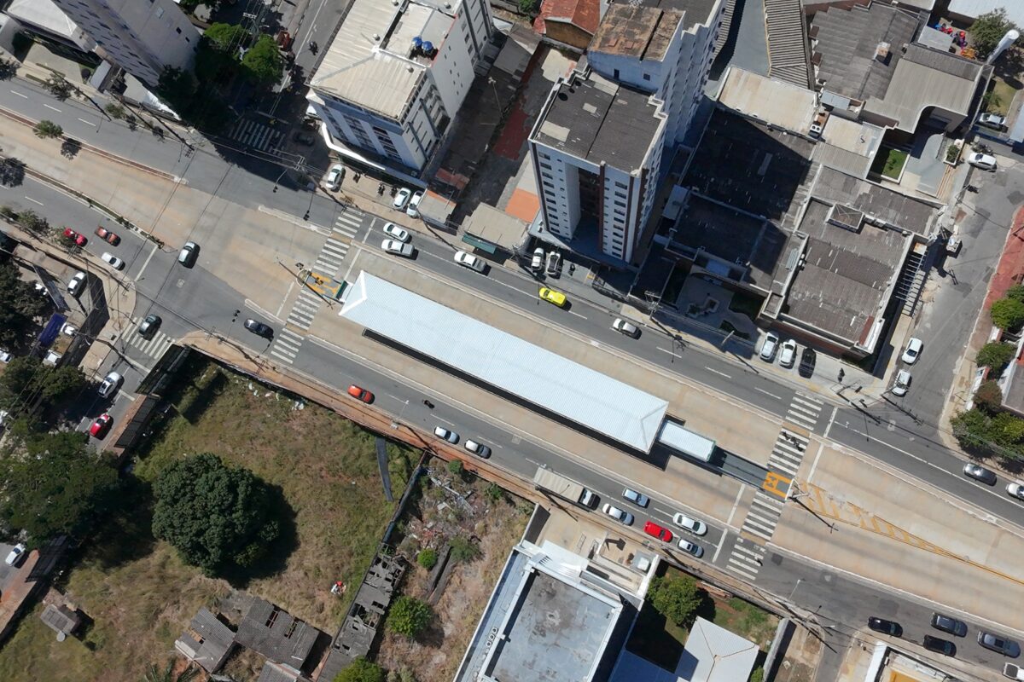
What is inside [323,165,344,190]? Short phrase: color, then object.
white car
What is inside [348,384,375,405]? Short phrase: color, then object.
red car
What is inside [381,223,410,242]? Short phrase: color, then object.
white car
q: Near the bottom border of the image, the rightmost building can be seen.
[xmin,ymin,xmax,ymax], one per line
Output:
[852,636,967,682]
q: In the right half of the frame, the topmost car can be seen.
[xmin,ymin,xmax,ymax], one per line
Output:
[975,111,1009,131]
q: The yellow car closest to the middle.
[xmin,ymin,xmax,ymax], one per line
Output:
[539,288,567,308]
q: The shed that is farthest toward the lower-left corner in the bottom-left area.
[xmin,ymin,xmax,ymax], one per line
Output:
[40,605,88,634]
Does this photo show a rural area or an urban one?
urban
